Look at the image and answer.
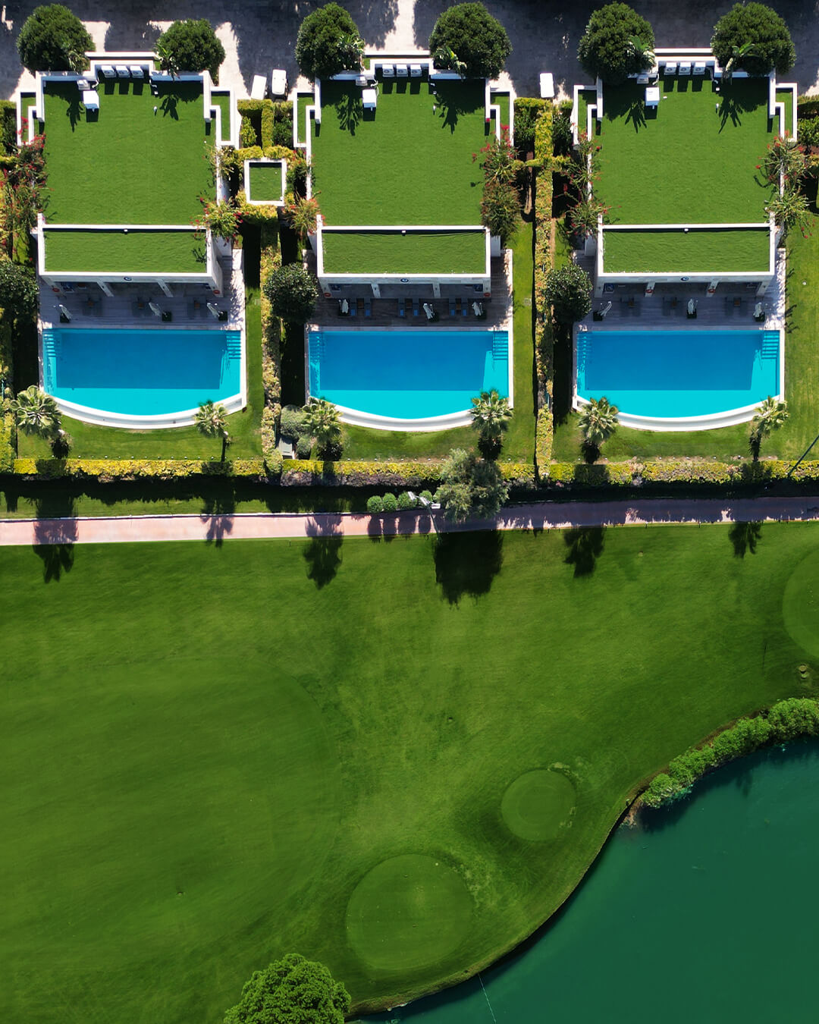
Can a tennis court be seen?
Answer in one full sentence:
No, there is no tennis court in the image.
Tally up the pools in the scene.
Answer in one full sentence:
In total, there are 3 pools in the scene.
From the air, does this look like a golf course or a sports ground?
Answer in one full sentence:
The area seen from above is a golf course.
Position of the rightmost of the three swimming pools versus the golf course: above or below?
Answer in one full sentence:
Looking at the scene, the rightmost of the three swimming pools is located above the golf course.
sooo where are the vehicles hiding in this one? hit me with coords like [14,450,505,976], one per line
[250,74,270,103]
[539,72,555,100]
[272,69,289,103]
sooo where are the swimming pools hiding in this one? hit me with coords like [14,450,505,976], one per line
[38,323,246,429]
[305,326,513,431]
[574,325,782,431]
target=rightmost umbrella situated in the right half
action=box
[755,303,767,322]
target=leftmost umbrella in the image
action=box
[56,304,71,322]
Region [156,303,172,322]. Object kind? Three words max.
umbrella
